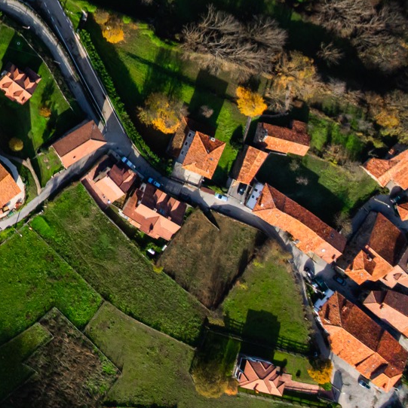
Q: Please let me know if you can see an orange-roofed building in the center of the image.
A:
Yes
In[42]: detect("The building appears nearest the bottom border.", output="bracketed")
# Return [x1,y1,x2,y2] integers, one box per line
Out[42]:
[228,349,284,397]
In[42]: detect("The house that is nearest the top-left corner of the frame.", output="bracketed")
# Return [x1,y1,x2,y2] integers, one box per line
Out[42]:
[0,62,41,105]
